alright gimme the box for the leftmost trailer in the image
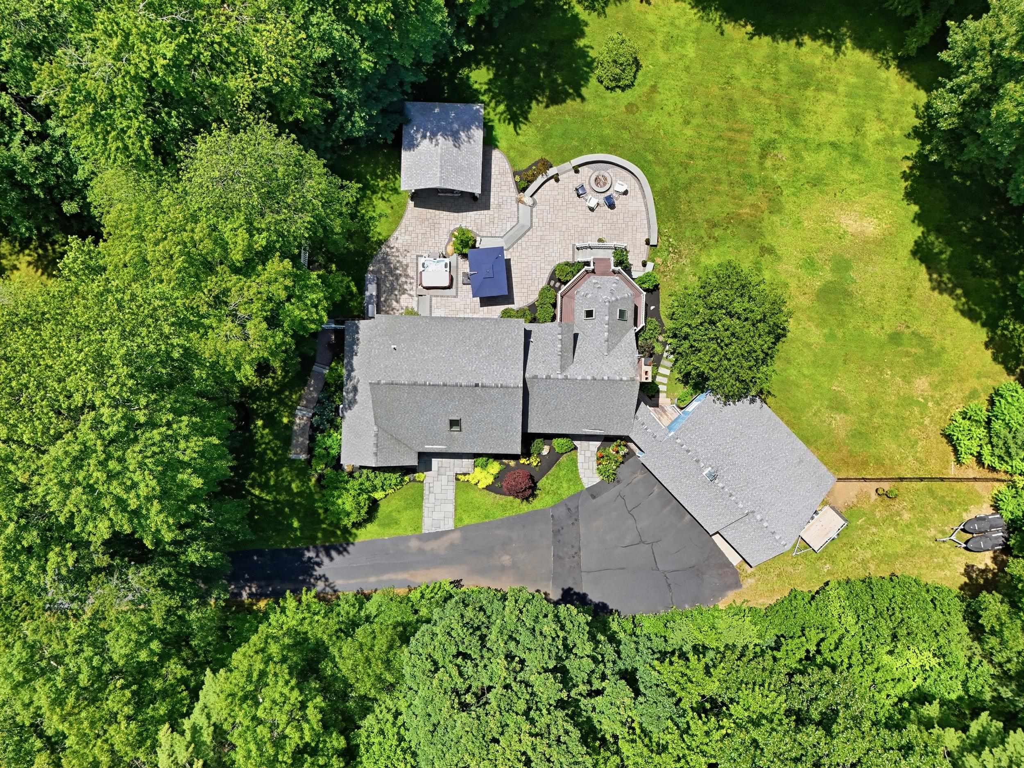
[792,504,855,556]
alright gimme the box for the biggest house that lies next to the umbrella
[339,276,652,466]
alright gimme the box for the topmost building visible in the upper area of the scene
[401,102,485,199]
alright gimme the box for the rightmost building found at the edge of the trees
[628,370,836,568]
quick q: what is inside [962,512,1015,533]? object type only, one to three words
boat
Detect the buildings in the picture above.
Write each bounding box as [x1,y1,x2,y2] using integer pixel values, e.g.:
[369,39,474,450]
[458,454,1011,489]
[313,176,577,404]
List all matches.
[339,276,652,466]
[628,370,836,568]
[401,102,485,199]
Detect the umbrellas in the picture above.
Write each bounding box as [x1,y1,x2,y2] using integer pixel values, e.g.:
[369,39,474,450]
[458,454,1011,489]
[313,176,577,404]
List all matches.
[461,247,508,298]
